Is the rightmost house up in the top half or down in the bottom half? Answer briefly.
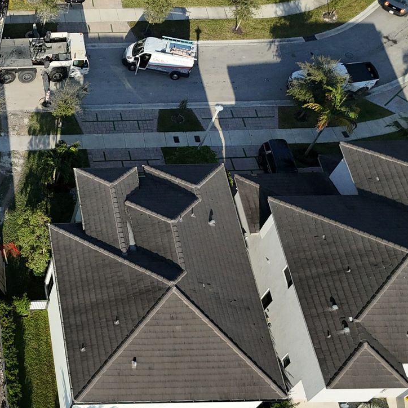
bottom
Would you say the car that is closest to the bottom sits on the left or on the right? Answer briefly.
right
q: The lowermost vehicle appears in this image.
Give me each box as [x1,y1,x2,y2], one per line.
[253,130,309,173]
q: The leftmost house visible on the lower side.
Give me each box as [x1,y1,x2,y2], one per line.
[45,162,288,408]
